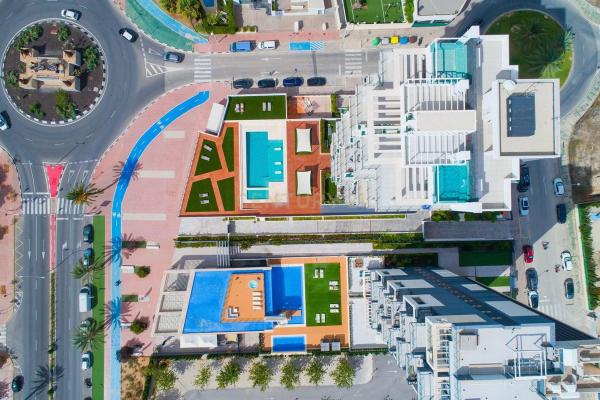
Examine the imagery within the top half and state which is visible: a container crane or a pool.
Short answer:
pool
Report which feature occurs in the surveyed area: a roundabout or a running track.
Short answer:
roundabout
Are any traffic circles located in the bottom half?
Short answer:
No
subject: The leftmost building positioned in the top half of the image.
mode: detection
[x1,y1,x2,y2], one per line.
[206,103,226,135]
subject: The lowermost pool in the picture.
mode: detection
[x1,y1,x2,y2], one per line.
[271,335,306,353]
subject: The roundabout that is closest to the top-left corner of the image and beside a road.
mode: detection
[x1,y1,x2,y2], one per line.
[2,19,106,123]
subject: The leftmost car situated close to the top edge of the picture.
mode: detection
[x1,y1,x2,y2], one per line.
[59,9,81,21]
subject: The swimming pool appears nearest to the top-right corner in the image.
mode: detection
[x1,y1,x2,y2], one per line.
[430,39,468,85]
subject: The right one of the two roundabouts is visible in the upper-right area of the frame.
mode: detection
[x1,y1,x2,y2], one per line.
[486,9,574,88]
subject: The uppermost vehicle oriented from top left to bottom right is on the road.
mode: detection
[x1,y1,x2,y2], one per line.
[120,27,139,43]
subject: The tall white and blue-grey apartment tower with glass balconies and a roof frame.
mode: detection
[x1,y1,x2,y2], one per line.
[369,267,600,400]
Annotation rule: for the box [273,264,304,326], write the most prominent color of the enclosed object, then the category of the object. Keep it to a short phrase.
blue swimming pool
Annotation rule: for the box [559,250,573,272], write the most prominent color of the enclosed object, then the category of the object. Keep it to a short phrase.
white car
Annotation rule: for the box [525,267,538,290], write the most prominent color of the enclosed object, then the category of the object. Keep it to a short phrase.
blue vehicle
